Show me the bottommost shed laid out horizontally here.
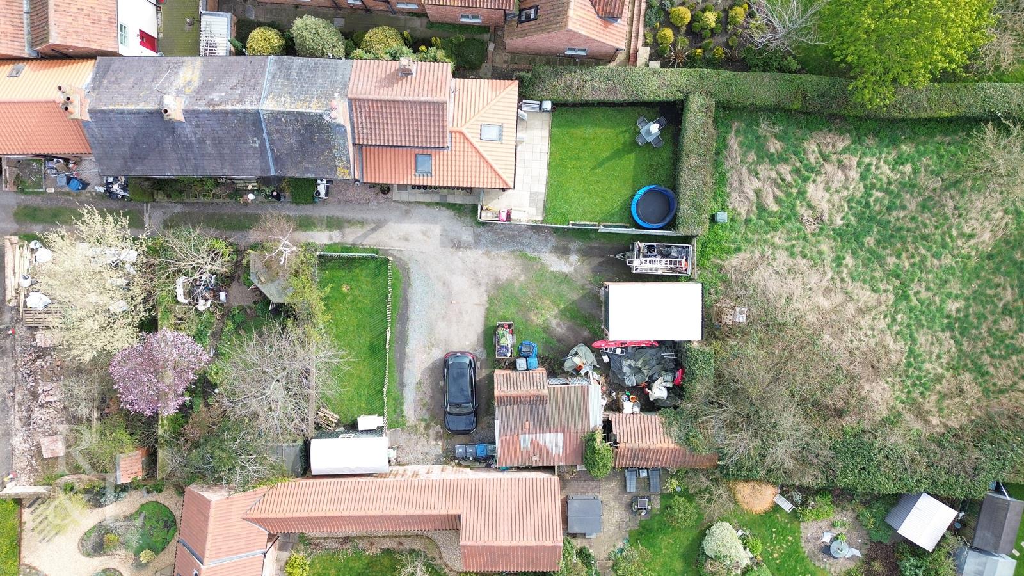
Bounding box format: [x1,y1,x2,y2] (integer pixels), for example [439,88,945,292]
[947,544,1017,576]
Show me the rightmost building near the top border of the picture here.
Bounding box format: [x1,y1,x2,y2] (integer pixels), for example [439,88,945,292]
[503,0,626,62]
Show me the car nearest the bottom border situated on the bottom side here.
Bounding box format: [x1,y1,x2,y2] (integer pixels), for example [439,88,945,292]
[438,353,481,436]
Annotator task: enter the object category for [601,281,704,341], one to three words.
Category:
shed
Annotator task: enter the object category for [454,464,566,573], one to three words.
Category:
shed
